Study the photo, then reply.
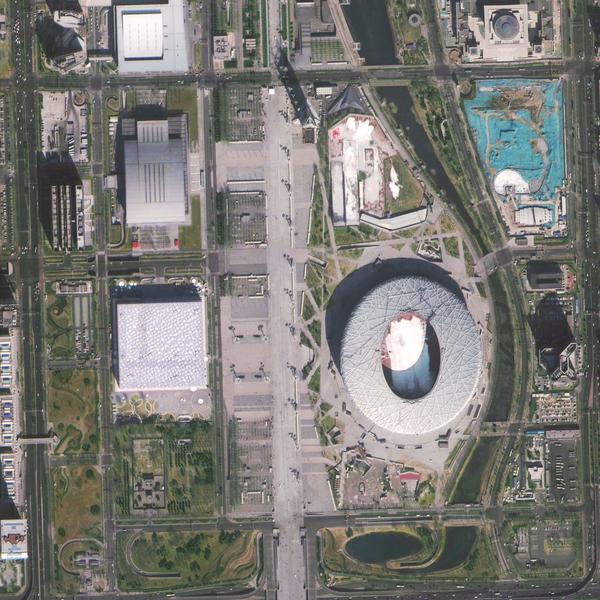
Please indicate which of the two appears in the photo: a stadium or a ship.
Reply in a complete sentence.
The one in the frame is a stadium.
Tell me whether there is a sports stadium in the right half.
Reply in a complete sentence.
Yes, I can see a sports stadium in the right half.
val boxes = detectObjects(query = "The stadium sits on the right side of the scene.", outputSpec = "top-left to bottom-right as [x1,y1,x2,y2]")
[341,274,481,435]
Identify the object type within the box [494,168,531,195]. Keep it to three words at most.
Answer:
building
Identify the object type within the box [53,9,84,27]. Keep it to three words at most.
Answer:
building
